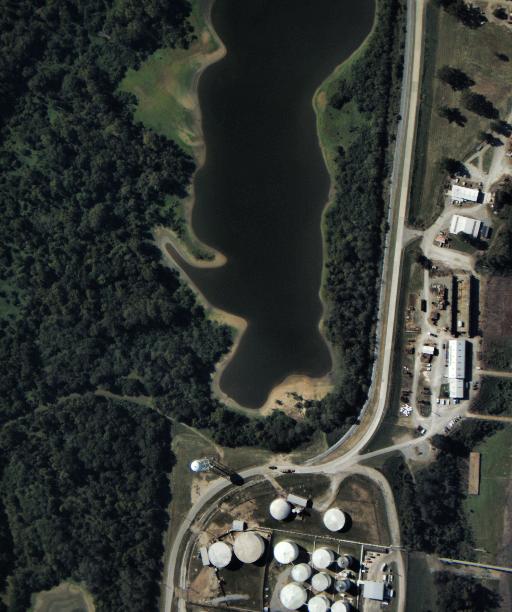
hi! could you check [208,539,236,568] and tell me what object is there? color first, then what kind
white storage tank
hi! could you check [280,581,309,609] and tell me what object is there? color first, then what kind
white storage tank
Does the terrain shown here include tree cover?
Yes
